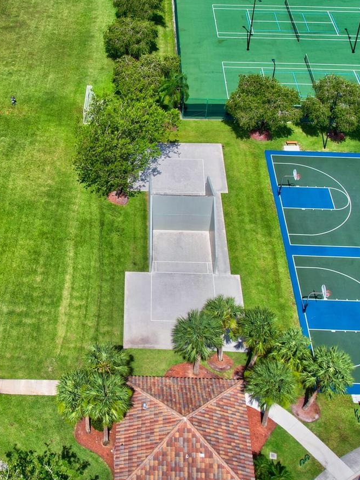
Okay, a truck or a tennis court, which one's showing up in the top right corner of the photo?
tennis court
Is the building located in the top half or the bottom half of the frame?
bottom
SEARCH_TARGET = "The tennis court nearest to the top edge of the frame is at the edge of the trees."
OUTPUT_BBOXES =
[176,0,360,52]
